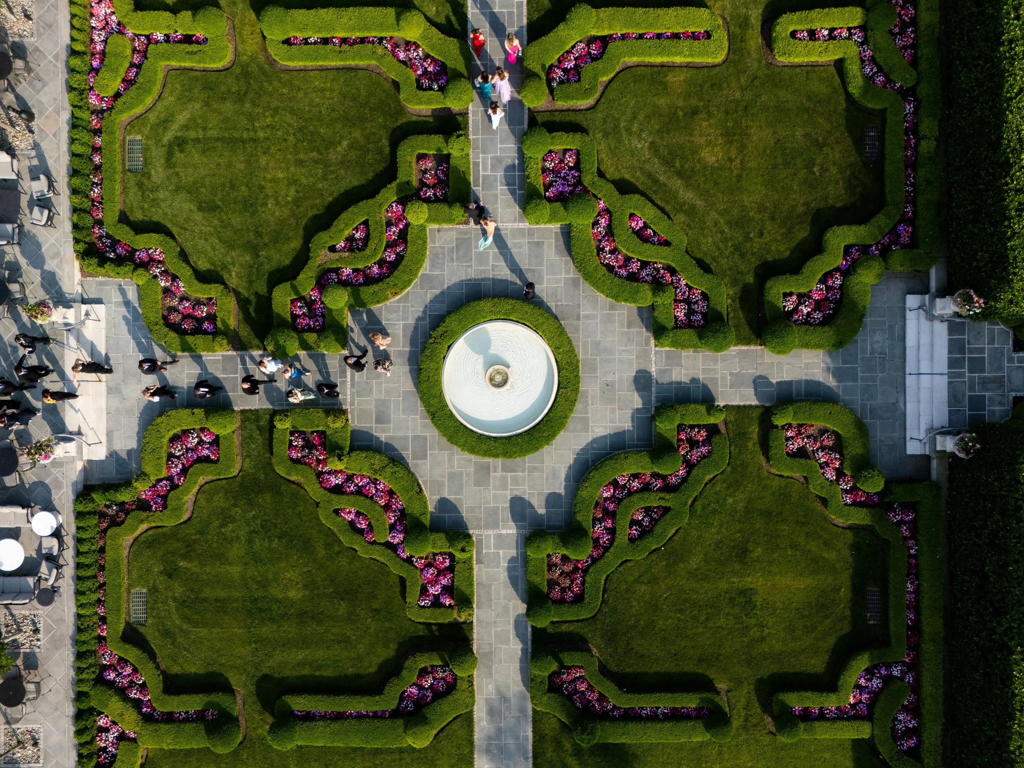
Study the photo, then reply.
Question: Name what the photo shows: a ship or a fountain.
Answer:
fountain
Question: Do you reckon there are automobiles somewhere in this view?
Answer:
No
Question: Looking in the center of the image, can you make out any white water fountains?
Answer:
Yes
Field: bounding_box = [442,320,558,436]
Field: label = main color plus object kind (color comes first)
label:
white fountain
